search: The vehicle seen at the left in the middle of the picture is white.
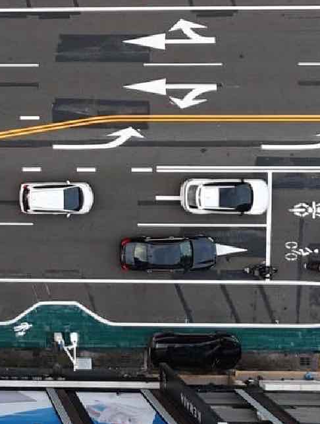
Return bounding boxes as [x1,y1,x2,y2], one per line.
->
[20,180,93,218]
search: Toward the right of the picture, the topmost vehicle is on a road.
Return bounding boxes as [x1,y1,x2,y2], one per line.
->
[179,175,266,218]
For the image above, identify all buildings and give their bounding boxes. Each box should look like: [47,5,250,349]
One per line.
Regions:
[194,378,320,424]
[0,370,201,424]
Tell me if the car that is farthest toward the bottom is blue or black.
black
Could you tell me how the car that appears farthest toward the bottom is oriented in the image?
from left to right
